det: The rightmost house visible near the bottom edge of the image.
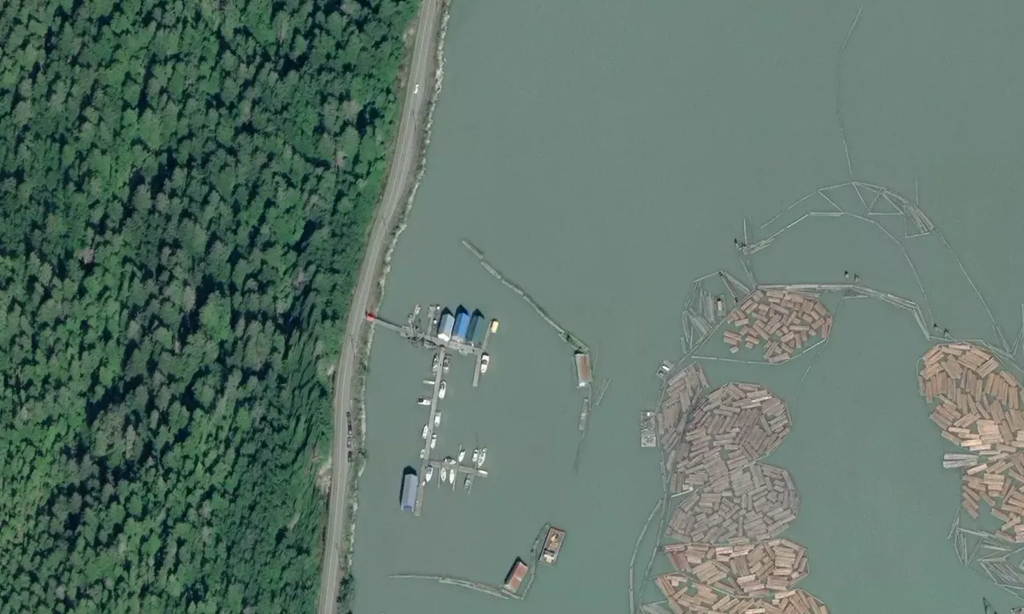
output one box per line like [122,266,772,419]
[504,562,529,595]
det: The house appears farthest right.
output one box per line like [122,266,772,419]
[575,354,593,386]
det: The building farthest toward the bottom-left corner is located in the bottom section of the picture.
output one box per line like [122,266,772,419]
[402,474,419,514]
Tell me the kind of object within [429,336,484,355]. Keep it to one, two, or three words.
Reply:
pier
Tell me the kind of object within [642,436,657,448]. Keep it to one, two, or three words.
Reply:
ship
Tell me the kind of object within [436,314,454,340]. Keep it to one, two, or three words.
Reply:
building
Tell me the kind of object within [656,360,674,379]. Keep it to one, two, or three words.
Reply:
ship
